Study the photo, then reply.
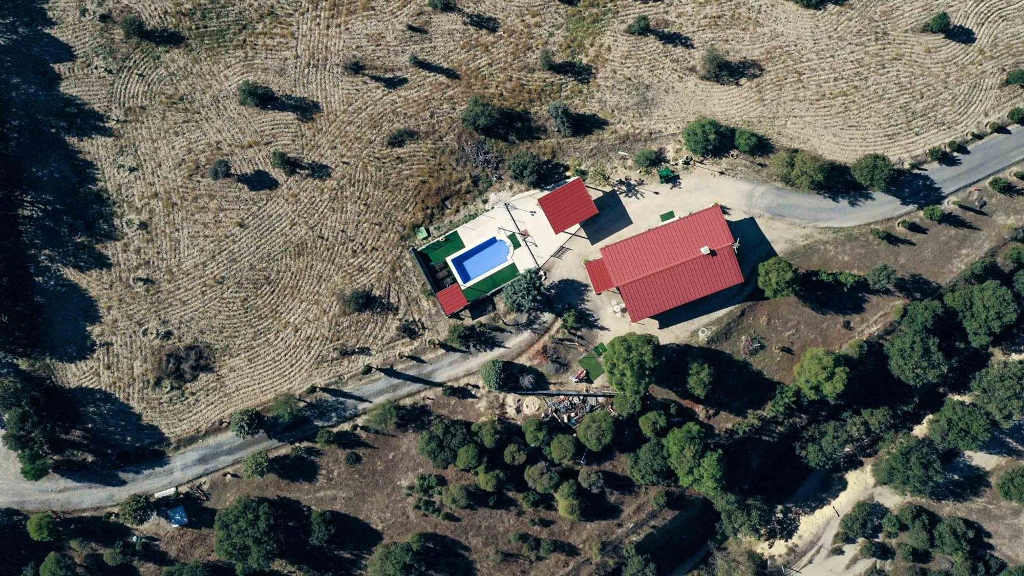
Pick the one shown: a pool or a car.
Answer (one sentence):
This aerial view contains a pool.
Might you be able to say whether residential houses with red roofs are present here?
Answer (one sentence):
Yes, there's a residential house with a red roof here.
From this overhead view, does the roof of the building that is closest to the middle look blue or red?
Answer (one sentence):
The roof of the building that is closest to the middle looks red in the image.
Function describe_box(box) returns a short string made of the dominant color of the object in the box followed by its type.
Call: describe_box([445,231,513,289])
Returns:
blue swimming pool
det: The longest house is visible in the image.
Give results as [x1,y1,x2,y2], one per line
[585,205,744,322]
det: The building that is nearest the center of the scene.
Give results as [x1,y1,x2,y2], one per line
[436,283,469,316]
